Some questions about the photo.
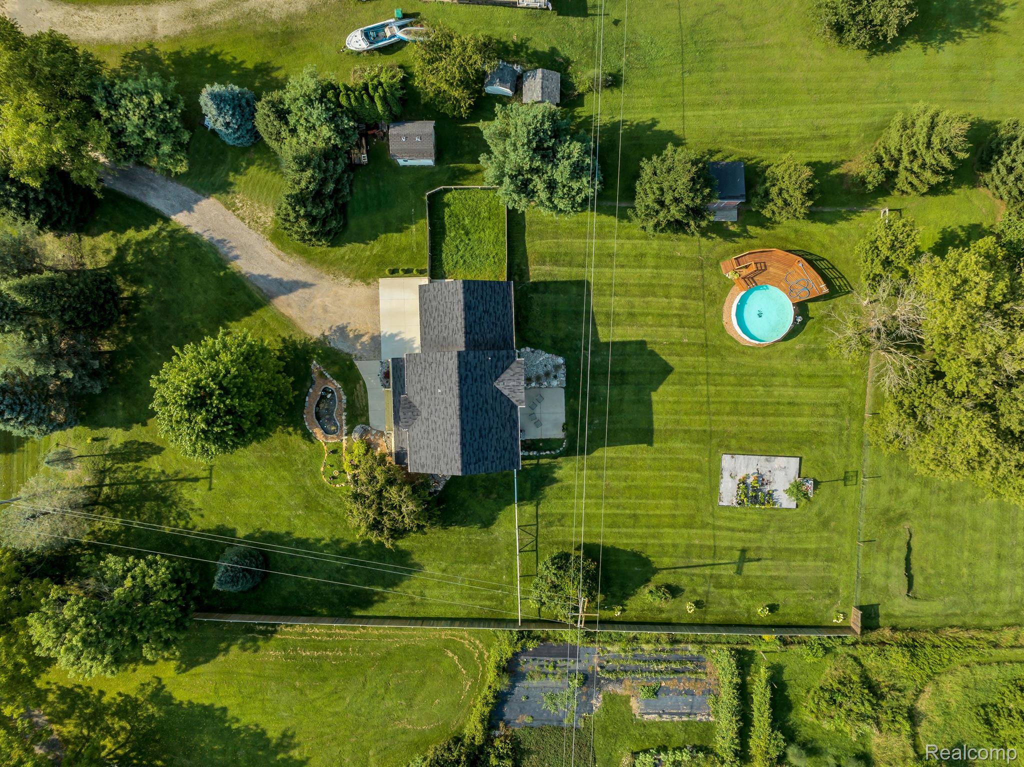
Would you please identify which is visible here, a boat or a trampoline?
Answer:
boat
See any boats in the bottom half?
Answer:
No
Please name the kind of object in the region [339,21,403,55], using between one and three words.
boat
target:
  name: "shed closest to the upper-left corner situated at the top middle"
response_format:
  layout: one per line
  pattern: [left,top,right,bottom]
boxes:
[387,123,436,167]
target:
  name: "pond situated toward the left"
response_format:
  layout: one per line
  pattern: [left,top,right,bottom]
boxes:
[301,359,350,444]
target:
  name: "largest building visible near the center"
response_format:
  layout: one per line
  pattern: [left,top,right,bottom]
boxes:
[382,278,525,476]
